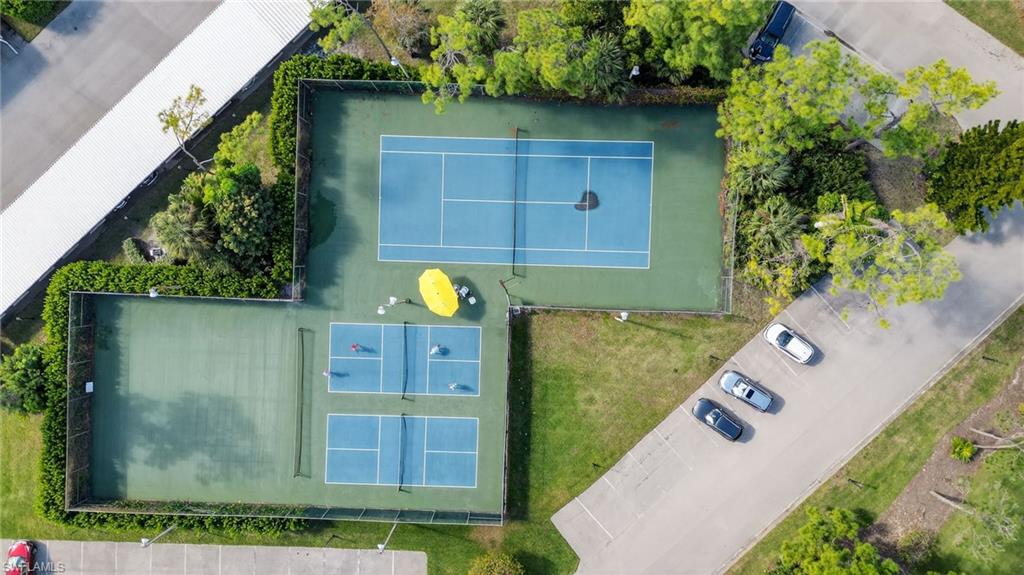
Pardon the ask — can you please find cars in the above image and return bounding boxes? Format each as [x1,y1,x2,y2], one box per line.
[145,169,159,182]
[690,398,745,442]
[764,322,817,364]
[720,370,776,413]
[746,2,797,62]
[5,539,35,575]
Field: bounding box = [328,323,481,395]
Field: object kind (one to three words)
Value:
sports court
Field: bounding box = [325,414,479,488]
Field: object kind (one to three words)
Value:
sports court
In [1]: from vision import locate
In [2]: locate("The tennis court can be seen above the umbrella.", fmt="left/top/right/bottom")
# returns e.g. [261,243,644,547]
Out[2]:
[378,135,654,268]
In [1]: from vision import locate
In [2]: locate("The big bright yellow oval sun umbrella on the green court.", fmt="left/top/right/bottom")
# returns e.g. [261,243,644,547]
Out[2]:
[419,268,459,317]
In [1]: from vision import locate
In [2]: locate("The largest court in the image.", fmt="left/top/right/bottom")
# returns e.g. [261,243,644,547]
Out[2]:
[91,90,732,514]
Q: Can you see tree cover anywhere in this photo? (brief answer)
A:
Yes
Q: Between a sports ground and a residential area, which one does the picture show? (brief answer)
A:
sports ground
